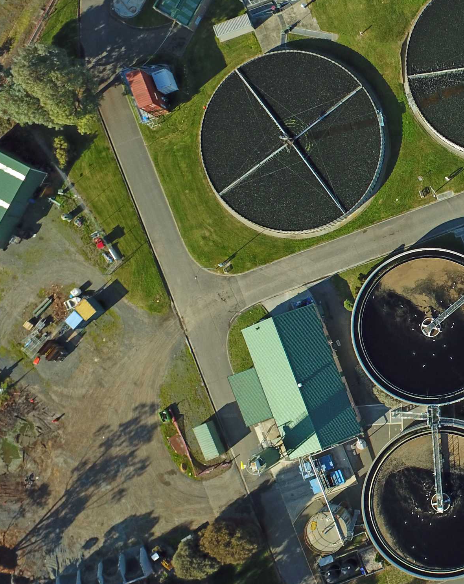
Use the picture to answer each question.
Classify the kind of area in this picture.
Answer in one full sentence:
This looks like an industrial area.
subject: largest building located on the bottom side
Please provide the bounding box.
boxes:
[228,304,366,460]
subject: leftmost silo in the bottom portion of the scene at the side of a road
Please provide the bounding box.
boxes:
[243,445,289,477]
